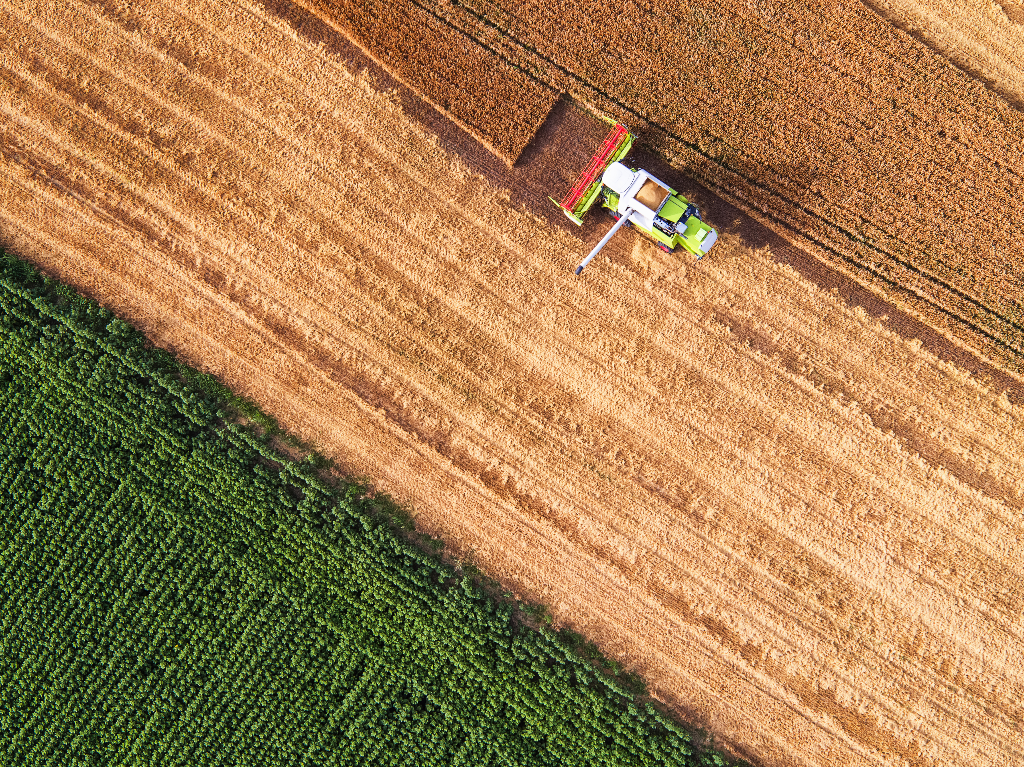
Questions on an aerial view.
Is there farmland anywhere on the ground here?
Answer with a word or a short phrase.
Yes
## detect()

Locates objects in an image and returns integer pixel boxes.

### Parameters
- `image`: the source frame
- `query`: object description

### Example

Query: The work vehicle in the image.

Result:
[547,117,715,269]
